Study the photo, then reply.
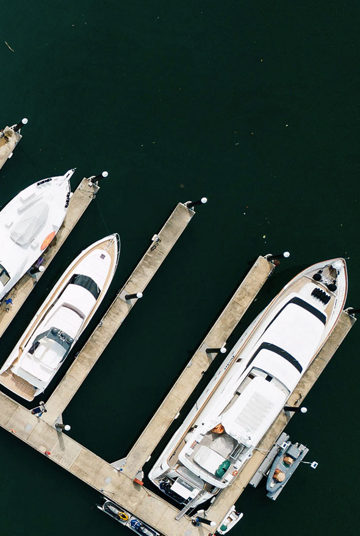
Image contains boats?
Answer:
Yes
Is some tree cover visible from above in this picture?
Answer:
No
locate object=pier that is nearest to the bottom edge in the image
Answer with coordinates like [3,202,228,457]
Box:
[95,497,159,536]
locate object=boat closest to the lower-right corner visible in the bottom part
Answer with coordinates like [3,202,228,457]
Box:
[267,437,318,493]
